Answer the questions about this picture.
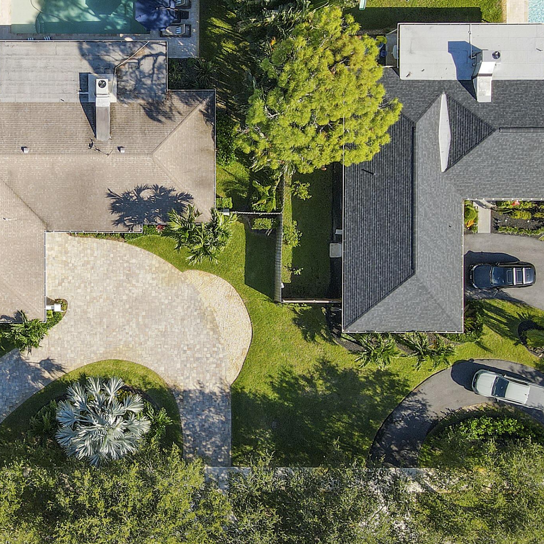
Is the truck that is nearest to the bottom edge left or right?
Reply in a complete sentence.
You can find the truck that is nearest to the bottom edge on the right side of the picture.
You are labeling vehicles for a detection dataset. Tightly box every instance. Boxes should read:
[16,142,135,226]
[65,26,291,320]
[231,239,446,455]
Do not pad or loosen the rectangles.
[466,369,544,412]
[466,259,538,293]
